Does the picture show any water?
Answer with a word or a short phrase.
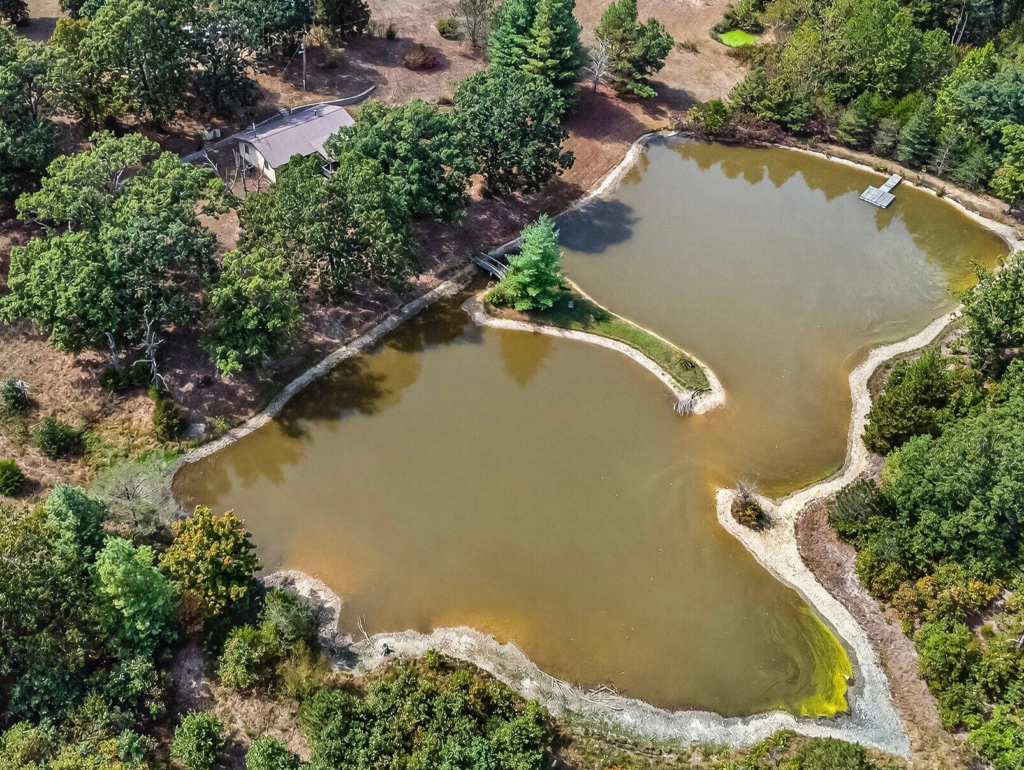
Yes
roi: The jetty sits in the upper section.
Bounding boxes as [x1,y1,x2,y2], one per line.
[858,172,903,210]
